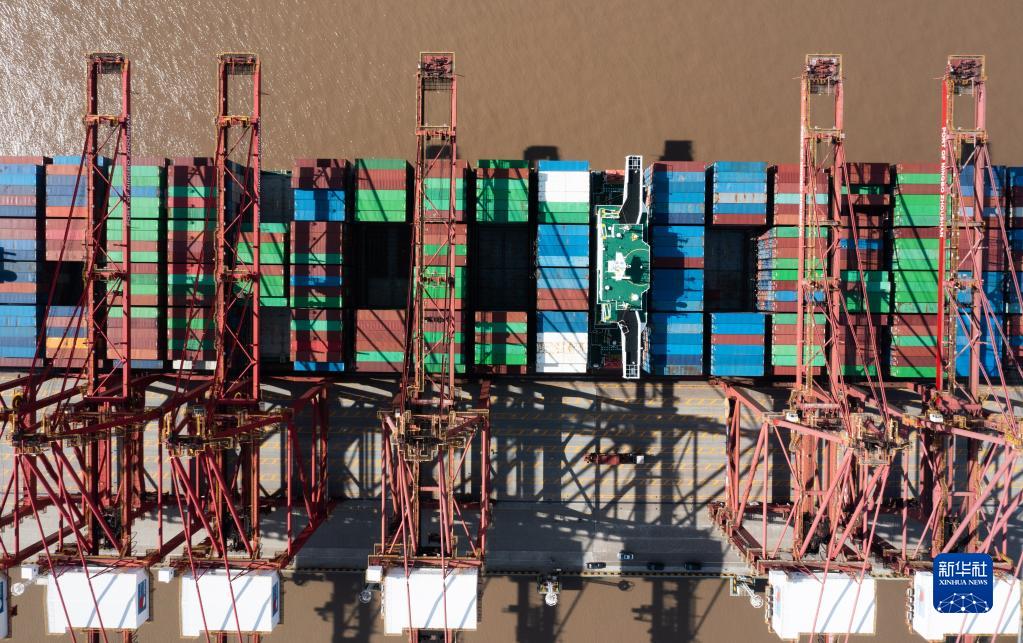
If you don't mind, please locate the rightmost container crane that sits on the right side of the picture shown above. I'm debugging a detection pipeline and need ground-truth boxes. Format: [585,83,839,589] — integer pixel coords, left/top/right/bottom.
[809,55,1023,643]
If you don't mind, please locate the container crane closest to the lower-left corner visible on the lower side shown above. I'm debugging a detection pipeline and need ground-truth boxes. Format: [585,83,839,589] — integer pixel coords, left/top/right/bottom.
[0,371,131,623]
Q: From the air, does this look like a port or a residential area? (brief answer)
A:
port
